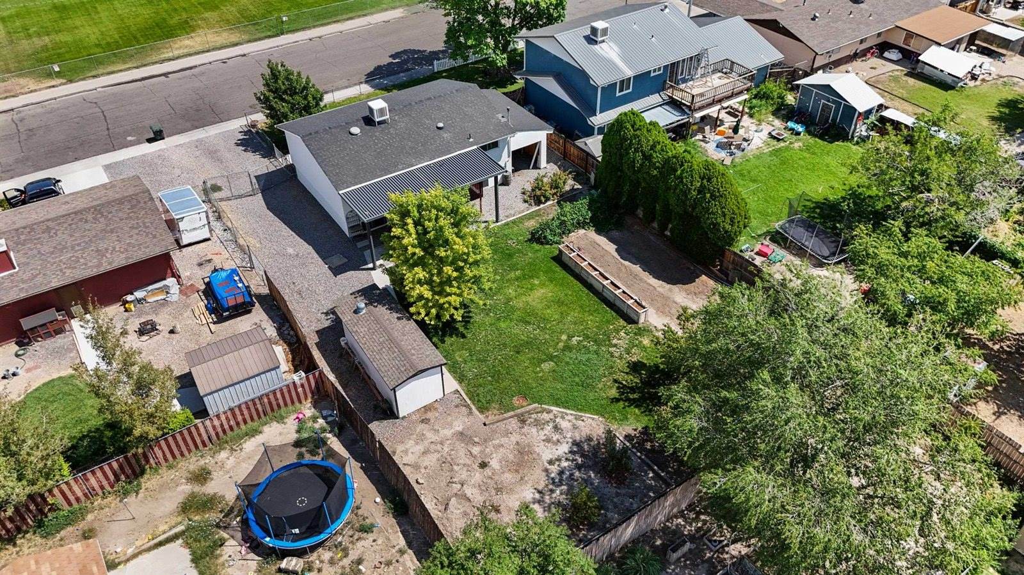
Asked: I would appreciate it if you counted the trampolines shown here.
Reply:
2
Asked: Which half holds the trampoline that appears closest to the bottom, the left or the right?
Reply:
left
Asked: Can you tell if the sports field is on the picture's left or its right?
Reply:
left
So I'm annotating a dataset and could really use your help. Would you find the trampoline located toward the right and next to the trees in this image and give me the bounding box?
[773,194,854,272]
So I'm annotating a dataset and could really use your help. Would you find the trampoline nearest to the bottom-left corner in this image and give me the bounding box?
[224,426,354,565]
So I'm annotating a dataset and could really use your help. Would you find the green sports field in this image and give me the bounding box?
[0,0,423,97]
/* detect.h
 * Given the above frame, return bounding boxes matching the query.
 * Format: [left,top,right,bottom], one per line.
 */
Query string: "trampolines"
[773,194,854,272]
[224,426,354,565]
